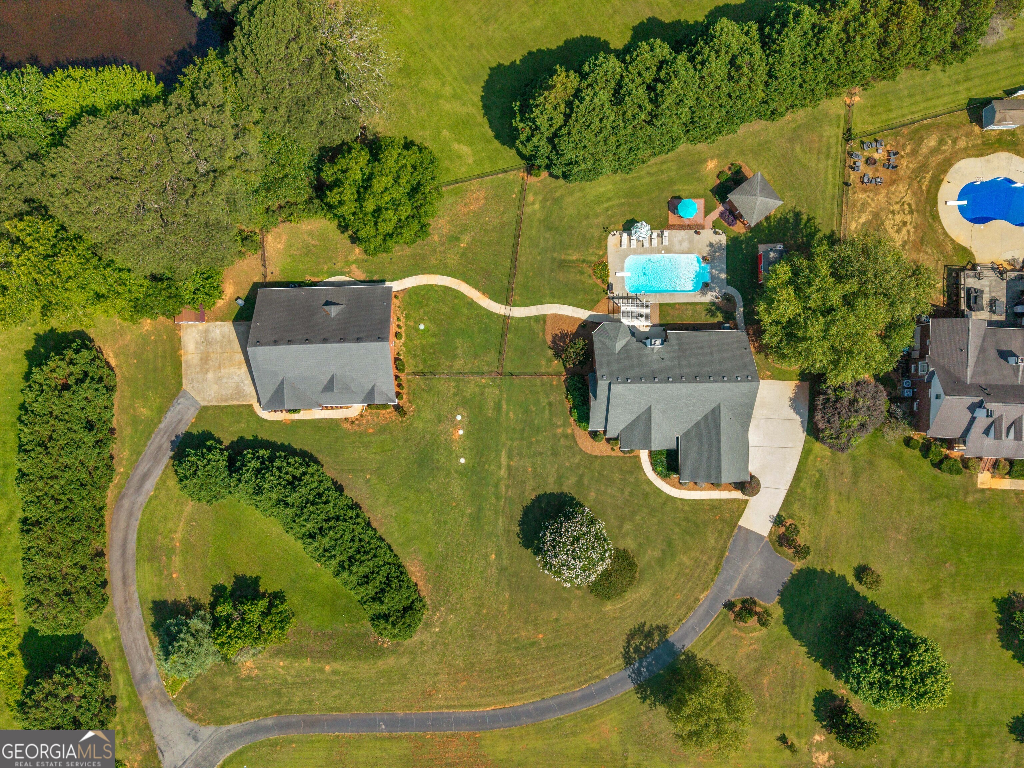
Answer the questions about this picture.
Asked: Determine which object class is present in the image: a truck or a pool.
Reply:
pool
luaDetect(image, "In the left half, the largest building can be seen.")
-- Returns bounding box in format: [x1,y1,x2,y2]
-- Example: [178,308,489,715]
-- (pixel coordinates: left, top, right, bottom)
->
[246,285,398,412]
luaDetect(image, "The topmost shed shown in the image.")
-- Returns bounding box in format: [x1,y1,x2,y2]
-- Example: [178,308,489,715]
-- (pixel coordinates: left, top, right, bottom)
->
[983,100,1024,131]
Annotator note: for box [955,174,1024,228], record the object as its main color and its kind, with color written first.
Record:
blue swimming pool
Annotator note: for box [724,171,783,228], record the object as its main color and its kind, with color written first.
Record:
gray gazebo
